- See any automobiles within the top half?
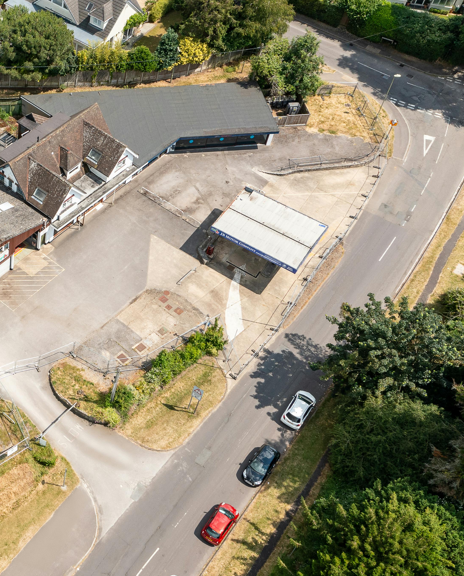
No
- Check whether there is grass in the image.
Yes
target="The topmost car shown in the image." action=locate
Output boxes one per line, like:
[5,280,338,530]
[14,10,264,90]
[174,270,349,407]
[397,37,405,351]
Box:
[281,390,315,432]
